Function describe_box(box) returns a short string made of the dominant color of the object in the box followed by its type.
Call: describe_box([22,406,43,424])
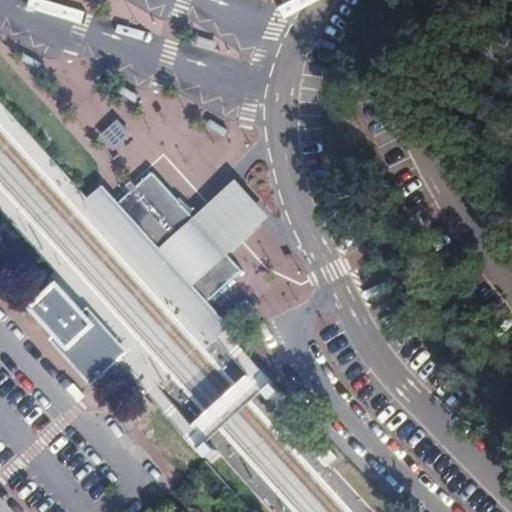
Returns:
white car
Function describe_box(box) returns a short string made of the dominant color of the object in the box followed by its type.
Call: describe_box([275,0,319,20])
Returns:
white bus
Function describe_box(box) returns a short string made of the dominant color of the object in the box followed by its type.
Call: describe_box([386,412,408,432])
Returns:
white car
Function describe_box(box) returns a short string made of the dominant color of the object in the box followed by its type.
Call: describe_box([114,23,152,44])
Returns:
white vehicle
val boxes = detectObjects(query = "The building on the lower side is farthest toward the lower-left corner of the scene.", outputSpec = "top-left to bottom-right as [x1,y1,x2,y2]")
[26,282,124,382]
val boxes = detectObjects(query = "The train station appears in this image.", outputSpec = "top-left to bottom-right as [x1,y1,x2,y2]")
[0,103,373,512]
